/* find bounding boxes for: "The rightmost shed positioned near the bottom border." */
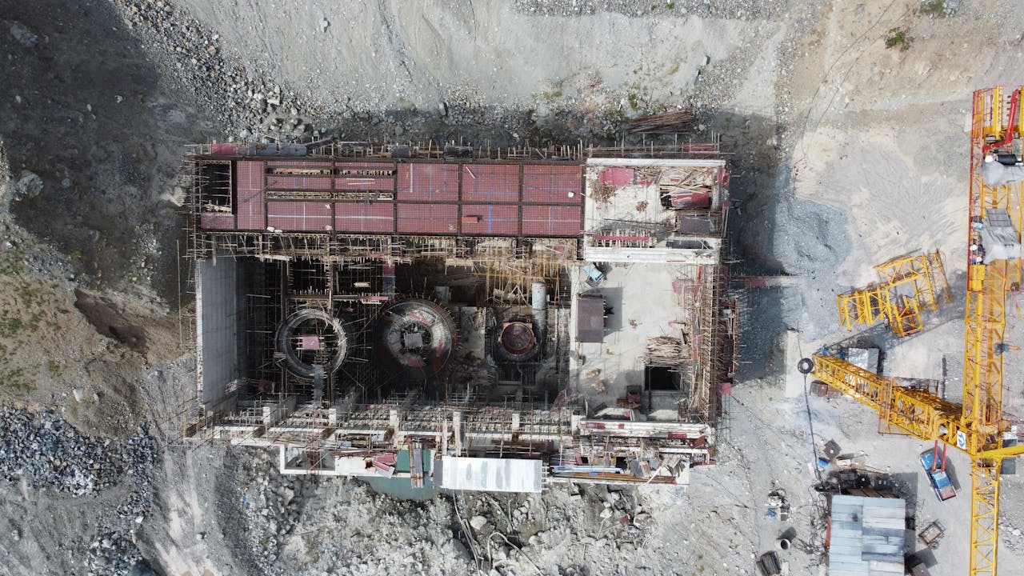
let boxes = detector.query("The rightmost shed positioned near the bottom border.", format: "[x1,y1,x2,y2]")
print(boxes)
[824,487,907,576]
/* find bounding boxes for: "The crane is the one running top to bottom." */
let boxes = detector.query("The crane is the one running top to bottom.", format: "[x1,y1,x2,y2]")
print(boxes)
[807,82,1024,576]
